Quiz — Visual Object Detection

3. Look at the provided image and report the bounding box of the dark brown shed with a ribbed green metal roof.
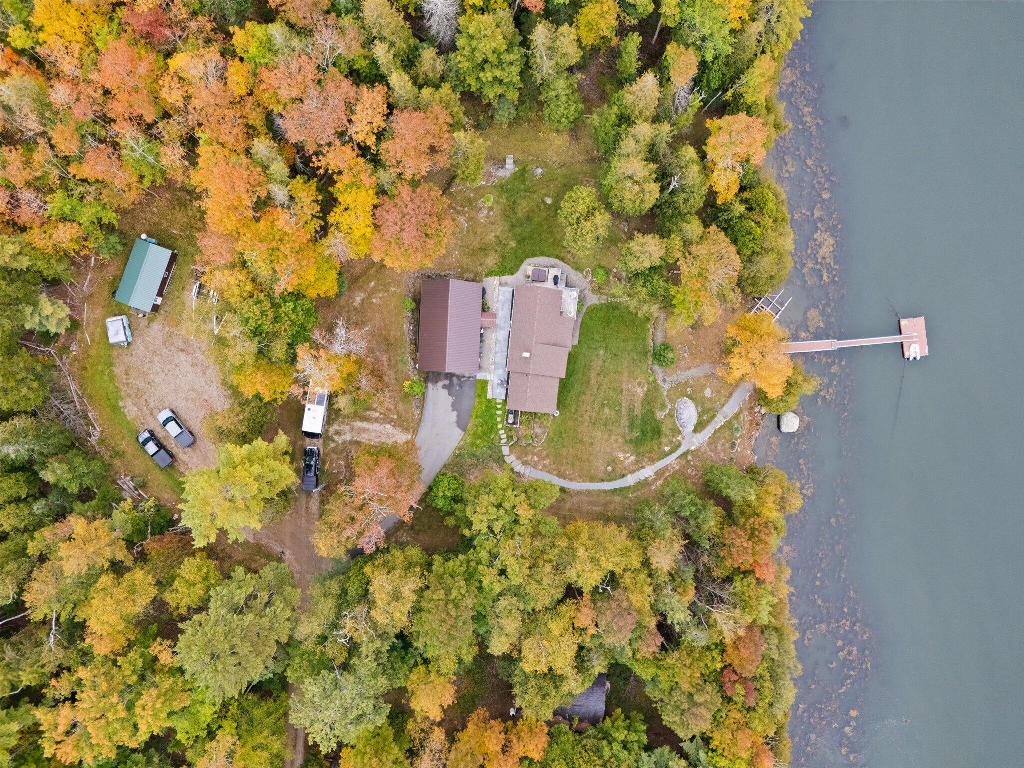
[115,239,179,313]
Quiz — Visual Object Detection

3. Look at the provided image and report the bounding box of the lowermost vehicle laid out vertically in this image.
[300,446,320,492]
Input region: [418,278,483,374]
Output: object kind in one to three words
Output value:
building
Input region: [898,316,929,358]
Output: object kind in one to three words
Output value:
pier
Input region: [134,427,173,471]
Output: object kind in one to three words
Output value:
truck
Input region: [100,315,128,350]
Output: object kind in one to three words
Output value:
camper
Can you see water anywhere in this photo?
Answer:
Yes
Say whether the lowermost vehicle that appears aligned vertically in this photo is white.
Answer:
No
